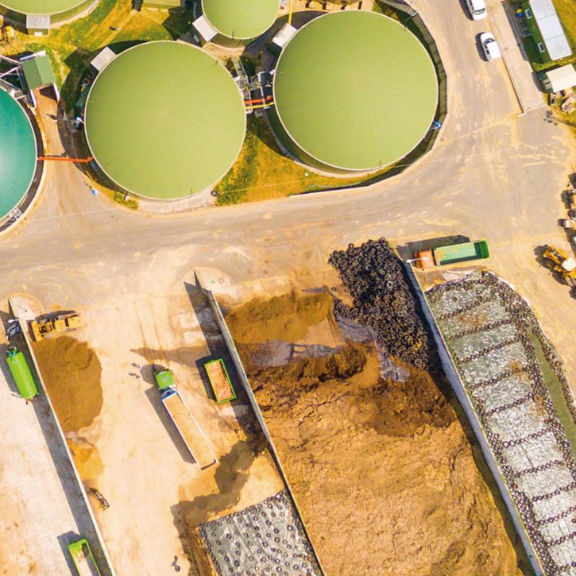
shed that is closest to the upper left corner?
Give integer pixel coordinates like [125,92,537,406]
[26,15,51,36]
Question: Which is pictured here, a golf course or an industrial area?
industrial area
